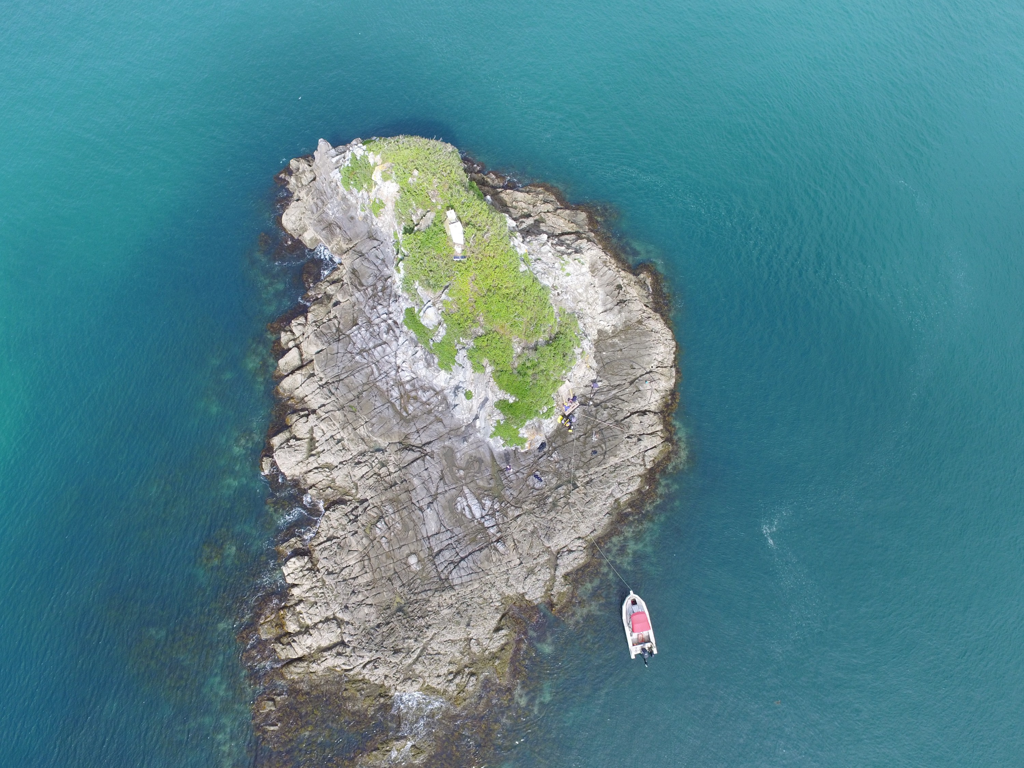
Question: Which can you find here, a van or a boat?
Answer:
boat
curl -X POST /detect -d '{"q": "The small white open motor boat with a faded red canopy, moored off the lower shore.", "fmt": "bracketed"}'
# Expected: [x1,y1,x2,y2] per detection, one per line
[622,590,657,667]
